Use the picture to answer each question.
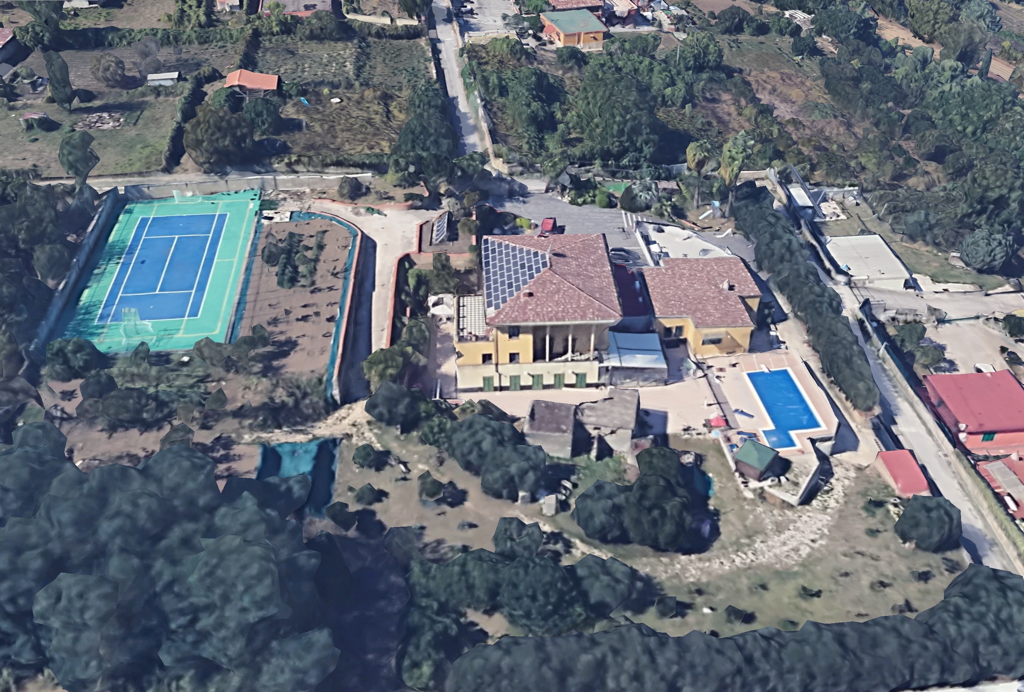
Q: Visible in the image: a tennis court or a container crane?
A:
tennis court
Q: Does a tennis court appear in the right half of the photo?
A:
No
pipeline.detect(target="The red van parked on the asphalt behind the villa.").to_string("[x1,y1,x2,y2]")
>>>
[540,213,557,234]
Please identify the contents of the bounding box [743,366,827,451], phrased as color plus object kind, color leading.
blue swimming pool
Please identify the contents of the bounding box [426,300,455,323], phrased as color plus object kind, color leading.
white gazebo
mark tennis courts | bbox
[37,189,261,355]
